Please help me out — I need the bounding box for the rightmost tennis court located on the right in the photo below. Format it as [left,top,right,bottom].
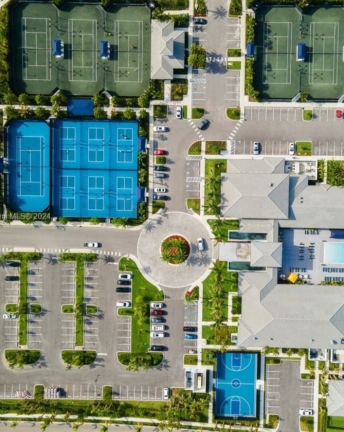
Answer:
[301,5,344,98]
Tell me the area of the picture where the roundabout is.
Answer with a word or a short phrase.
center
